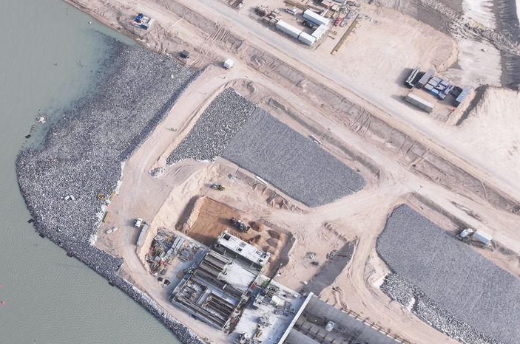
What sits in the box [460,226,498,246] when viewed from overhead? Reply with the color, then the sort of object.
white vehicle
